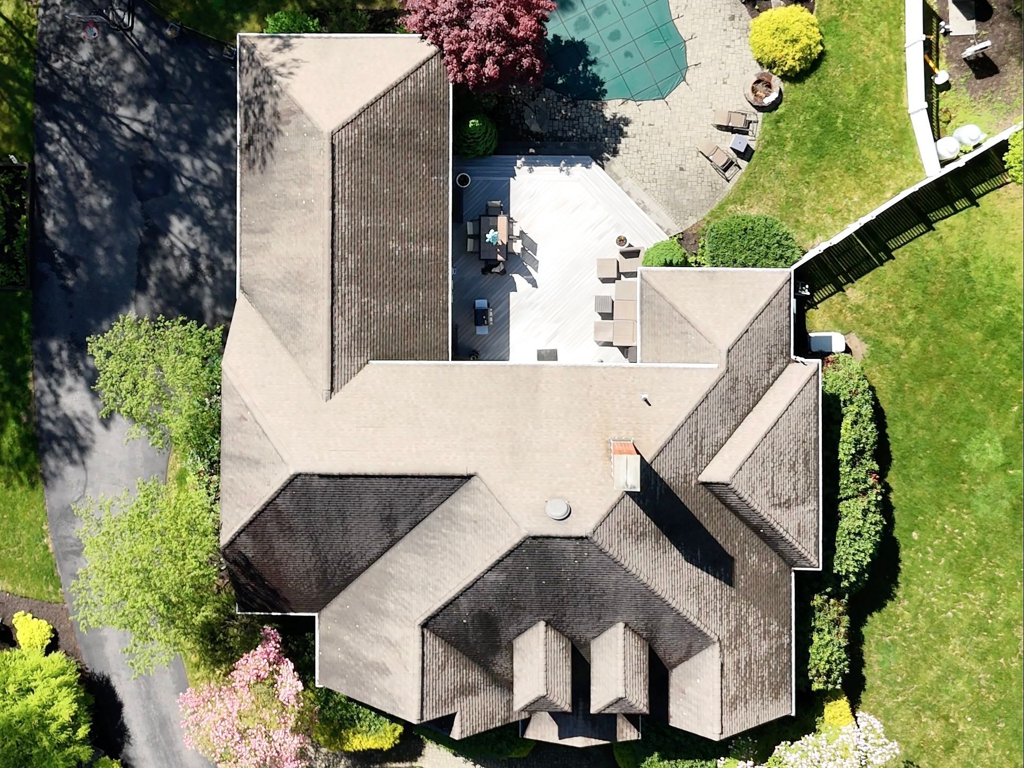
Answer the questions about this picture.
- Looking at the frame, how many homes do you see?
1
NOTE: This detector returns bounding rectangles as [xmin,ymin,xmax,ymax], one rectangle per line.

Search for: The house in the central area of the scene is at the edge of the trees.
[219,30,824,747]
